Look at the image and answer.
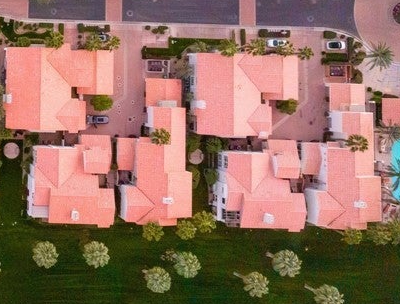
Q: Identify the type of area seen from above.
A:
residential area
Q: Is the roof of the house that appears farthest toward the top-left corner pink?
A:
Yes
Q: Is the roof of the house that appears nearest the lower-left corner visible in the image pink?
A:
Yes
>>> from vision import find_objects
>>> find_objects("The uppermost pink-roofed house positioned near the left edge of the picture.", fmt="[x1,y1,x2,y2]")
[5,44,111,129]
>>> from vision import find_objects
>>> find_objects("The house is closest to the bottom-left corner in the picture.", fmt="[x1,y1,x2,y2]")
[26,138,112,226]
